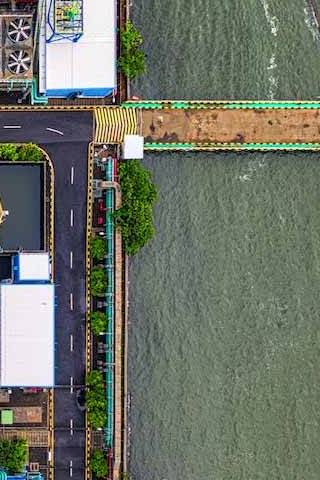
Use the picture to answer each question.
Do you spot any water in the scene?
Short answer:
Yes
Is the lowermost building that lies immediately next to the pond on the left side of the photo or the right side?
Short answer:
left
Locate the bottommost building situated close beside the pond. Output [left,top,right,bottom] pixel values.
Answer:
[0,284,55,387]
